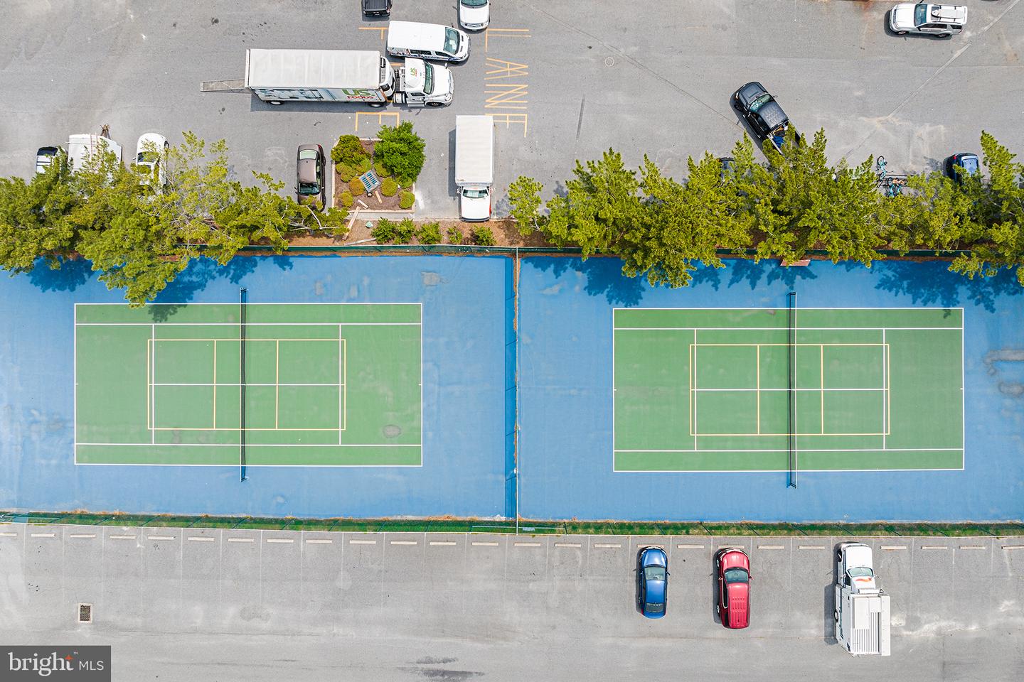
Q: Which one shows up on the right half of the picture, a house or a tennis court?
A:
tennis court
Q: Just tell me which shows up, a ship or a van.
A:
van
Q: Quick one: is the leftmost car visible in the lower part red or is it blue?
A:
blue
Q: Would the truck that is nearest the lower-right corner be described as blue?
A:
No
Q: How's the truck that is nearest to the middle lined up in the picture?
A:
vertically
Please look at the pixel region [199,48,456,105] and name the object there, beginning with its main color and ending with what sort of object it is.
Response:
white truck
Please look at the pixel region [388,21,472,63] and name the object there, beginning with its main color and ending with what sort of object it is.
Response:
white van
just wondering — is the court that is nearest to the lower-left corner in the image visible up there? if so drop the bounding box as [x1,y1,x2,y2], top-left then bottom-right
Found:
[0,256,516,519]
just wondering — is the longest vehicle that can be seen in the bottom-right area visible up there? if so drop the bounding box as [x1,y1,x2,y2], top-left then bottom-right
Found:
[832,543,888,656]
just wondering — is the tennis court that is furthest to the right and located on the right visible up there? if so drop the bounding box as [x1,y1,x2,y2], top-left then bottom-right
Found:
[517,257,1024,522]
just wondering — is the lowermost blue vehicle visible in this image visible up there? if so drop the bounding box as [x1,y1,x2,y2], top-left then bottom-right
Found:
[635,548,671,621]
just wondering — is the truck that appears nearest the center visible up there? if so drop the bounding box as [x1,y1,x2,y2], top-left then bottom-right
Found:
[455,116,497,224]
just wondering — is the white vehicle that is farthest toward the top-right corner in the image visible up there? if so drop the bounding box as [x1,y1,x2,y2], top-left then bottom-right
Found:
[886,0,969,38]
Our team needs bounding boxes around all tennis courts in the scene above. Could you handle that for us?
[517,257,1024,522]
[0,256,516,519]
